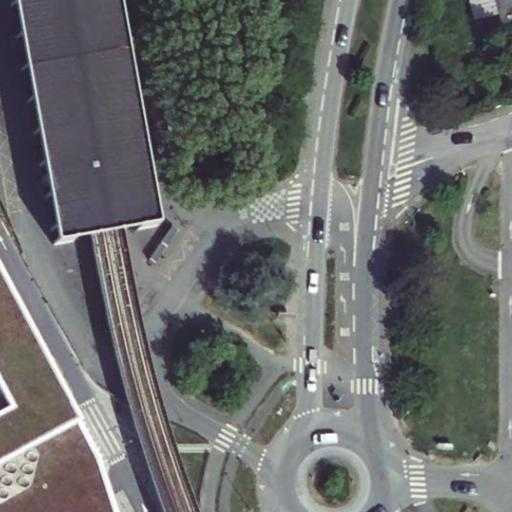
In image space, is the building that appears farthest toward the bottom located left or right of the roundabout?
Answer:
on its left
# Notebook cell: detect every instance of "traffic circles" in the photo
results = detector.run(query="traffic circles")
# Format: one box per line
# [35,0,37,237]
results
[260,409,408,512]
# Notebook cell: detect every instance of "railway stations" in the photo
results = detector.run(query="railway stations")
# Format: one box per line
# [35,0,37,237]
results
[16,0,163,246]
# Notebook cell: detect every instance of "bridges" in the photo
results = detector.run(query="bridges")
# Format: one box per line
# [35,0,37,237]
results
[90,227,198,512]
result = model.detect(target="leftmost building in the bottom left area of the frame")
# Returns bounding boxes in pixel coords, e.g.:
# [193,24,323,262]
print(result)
[0,256,118,512]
